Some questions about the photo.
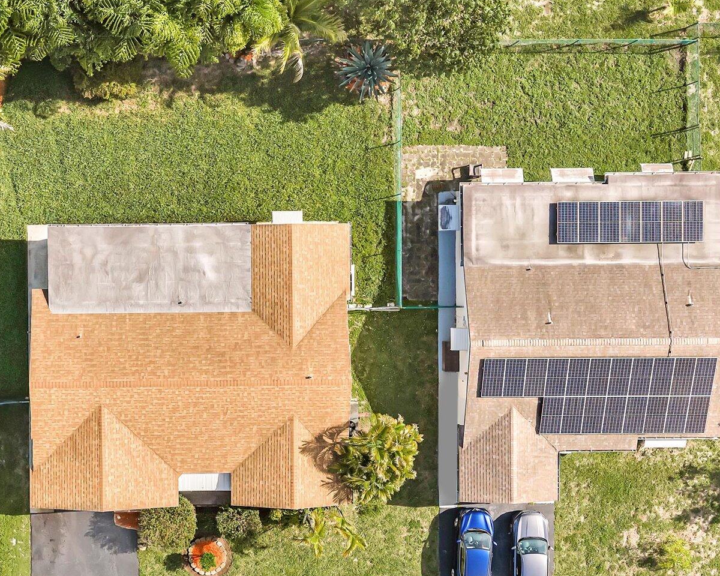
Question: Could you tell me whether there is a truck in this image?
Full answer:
No, the scene contains no truck.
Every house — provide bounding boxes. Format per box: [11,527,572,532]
[29,210,355,511]
[438,163,720,505]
